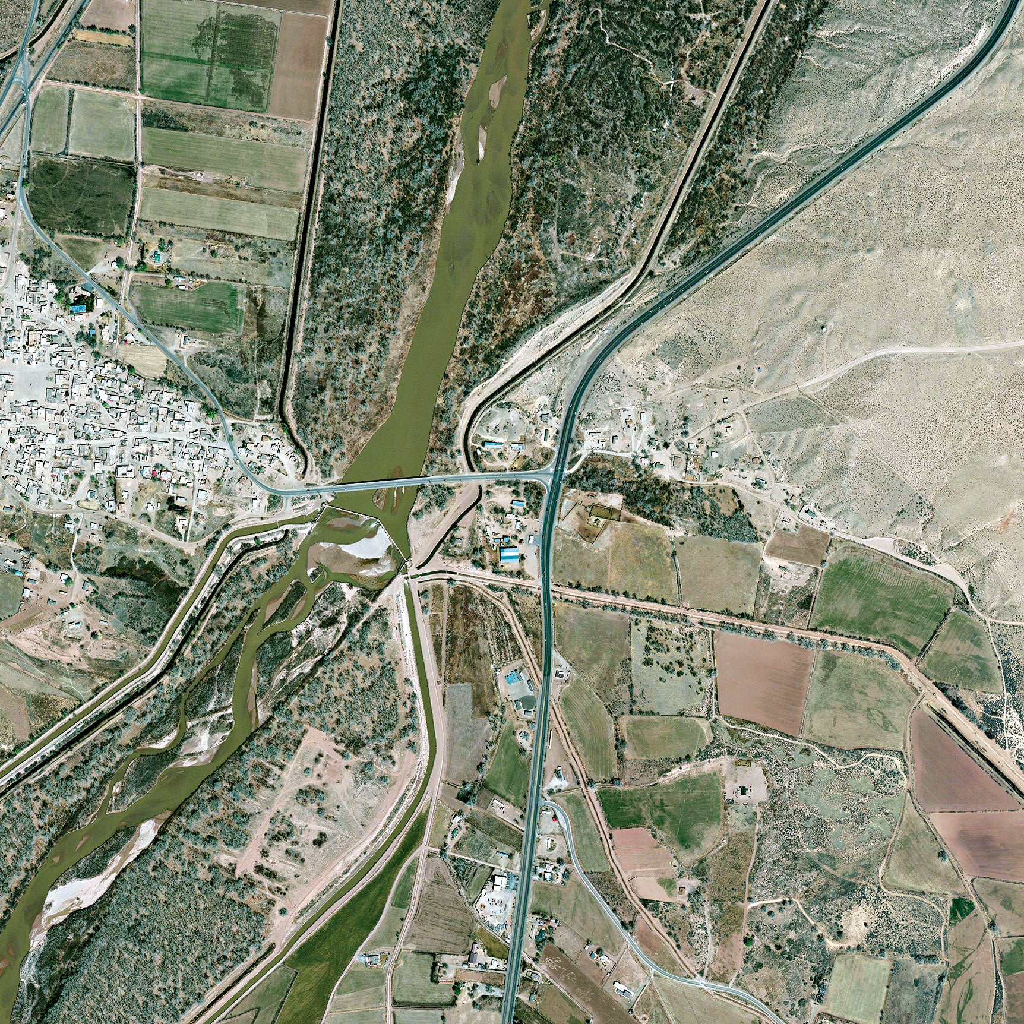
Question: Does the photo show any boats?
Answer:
No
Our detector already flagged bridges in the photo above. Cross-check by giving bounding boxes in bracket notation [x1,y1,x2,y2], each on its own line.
[327,479,426,494]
